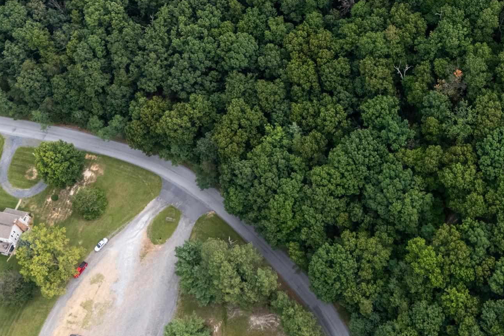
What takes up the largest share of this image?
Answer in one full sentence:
The largest share of the image is taken up by trees.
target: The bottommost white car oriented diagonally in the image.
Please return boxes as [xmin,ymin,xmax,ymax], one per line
[94,238,110,252]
